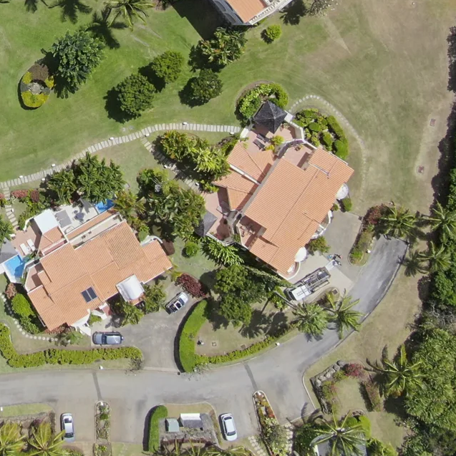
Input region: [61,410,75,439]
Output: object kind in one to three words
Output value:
vehicle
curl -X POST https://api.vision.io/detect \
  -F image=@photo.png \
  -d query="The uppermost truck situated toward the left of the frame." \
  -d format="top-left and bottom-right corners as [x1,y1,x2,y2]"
[162,288,191,315]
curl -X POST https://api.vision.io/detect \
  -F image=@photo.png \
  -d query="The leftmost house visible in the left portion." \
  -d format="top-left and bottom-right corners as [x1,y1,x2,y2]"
[0,205,172,331]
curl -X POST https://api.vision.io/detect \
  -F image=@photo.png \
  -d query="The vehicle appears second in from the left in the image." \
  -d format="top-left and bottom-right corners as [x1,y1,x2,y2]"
[92,330,121,345]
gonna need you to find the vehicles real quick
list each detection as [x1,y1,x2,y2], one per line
[61,410,75,439]
[92,330,121,345]
[284,263,336,302]
[162,288,191,315]
[219,410,236,440]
